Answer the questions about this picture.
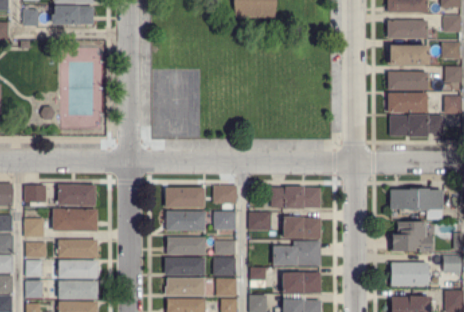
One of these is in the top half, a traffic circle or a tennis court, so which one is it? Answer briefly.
tennis court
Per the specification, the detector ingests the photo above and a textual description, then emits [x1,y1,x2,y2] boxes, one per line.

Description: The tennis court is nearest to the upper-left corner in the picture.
[58,40,104,134]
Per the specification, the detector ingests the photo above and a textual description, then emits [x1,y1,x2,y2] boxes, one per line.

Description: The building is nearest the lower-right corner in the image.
[444,290,462,312]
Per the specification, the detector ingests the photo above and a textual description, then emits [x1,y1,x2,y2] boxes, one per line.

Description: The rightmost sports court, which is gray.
[150,69,200,138]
